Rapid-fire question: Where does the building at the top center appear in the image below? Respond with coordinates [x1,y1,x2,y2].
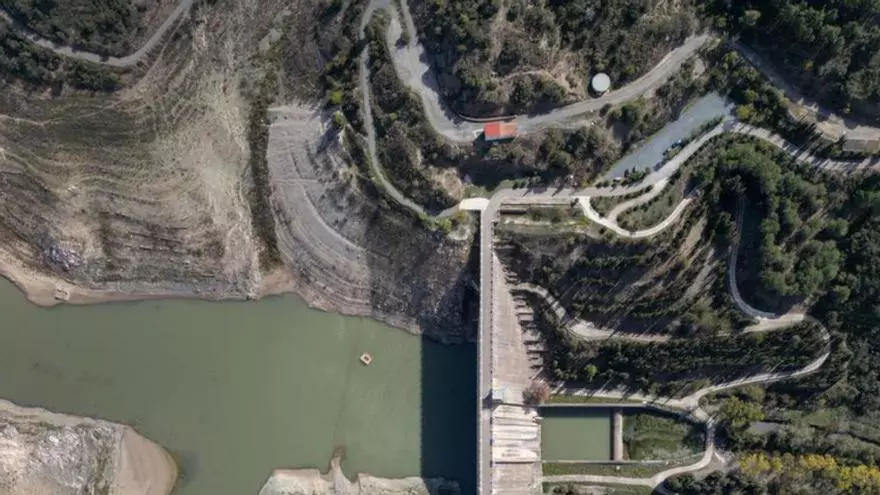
[475,123,517,141]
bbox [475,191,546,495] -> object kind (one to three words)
dam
